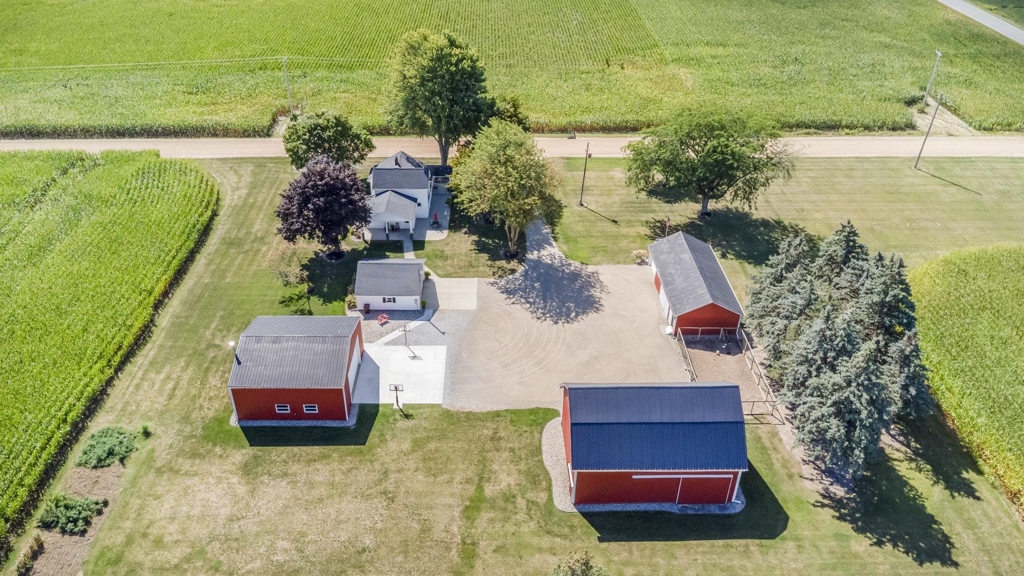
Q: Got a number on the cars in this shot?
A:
0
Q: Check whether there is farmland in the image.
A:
Yes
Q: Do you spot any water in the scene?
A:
No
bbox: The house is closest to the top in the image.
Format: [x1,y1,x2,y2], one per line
[360,149,455,240]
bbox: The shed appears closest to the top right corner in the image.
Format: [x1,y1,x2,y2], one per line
[647,231,746,338]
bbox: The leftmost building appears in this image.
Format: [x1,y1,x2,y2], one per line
[227,316,363,422]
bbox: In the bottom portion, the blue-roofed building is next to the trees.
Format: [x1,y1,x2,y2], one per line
[559,383,748,503]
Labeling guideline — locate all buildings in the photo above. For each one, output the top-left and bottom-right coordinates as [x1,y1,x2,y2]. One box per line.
[647,231,746,338]
[353,259,426,310]
[559,383,748,503]
[227,316,363,422]
[360,149,455,240]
